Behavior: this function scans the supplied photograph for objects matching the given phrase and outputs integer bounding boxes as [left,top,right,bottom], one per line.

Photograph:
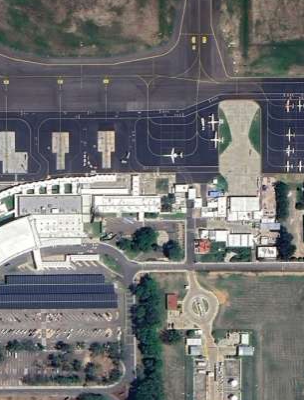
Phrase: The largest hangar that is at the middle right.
[231,198,261,212]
